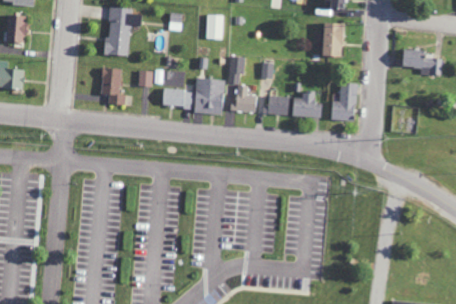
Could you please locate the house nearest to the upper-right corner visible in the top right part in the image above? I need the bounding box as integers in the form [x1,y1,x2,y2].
[403,46,436,76]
